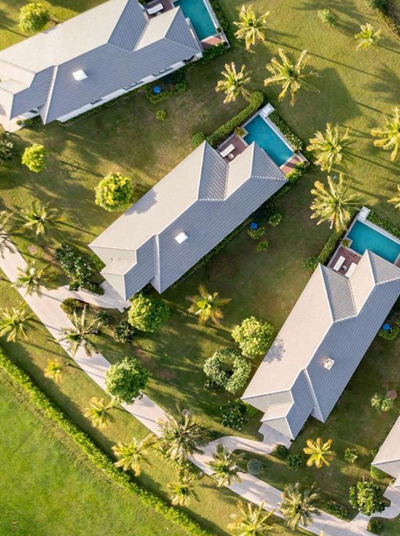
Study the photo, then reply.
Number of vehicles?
zero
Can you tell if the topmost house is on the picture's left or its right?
left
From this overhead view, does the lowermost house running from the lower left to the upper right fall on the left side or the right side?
right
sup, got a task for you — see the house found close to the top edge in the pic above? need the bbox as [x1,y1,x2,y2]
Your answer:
[0,0,202,125]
